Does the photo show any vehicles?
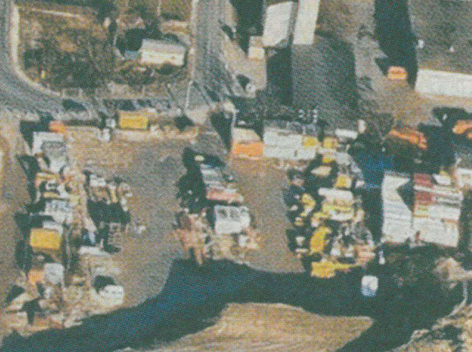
Yes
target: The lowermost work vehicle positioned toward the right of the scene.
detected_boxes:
[307,261,362,284]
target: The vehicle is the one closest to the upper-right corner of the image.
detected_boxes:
[389,65,411,82]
